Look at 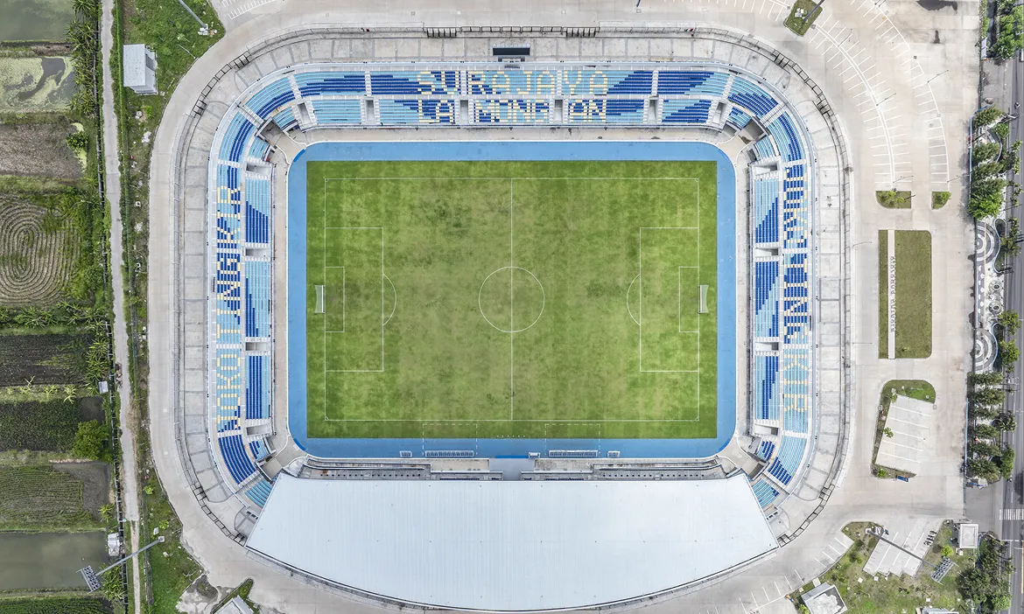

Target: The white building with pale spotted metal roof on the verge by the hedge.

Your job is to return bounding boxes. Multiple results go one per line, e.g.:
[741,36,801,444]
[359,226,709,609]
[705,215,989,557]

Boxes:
[123,44,164,97]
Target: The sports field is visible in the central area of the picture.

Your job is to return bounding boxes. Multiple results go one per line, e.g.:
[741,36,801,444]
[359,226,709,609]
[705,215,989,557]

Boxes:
[277,130,747,467]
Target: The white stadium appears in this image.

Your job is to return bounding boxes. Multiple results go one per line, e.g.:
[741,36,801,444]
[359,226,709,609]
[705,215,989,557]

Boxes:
[169,22,855,614]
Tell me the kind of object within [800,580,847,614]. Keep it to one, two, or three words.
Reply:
house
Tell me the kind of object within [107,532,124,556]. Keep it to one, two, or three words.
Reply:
shed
